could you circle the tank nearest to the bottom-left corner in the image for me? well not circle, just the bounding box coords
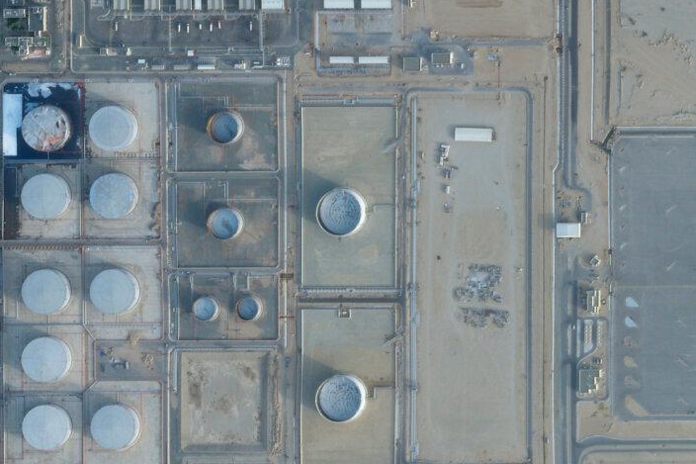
[21,404,73,454]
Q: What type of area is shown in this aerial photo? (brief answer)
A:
industrial area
